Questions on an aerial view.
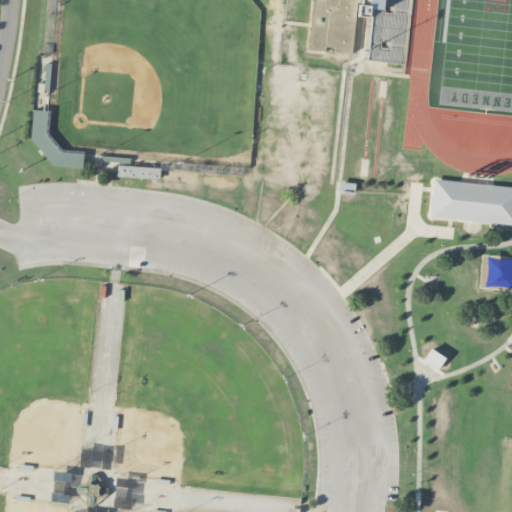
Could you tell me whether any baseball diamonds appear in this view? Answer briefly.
Yes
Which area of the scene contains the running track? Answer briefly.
top right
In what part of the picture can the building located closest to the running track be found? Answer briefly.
right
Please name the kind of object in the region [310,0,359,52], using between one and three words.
building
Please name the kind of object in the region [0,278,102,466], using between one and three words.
baseball field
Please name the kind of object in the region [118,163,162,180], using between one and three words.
building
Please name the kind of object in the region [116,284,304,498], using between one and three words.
baseball field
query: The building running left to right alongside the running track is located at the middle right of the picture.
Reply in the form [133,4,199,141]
[432,180,512,226]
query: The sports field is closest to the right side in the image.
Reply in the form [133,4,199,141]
[430,0,512,117]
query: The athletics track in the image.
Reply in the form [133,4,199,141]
[404,0,512,176]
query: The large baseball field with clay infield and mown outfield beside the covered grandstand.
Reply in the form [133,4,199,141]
[54,0,260,172]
